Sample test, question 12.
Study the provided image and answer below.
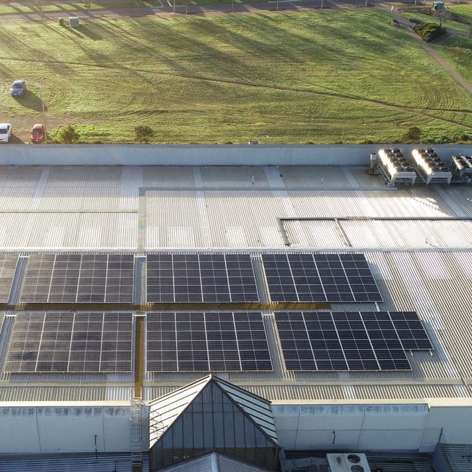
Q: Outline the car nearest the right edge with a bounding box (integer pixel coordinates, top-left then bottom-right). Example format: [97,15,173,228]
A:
[31,124,47,141]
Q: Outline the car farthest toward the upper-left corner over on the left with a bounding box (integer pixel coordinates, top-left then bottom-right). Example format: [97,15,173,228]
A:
[9,79,25,95]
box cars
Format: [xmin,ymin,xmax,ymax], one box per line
[0,125,13,141]
[9,79,25,95]
[31,124,47,141]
